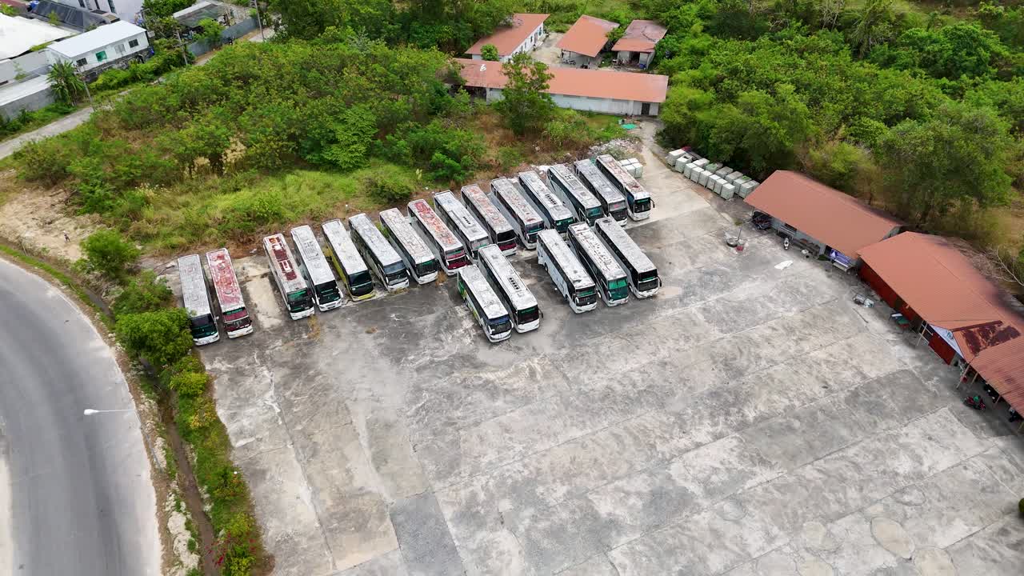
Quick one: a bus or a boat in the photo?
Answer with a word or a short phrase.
bus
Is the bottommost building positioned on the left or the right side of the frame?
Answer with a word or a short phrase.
right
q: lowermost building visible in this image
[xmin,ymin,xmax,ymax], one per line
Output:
[916,321,1024,429]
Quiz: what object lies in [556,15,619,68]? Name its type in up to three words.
shed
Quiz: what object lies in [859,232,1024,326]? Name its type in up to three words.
building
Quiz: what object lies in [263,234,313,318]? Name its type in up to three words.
bus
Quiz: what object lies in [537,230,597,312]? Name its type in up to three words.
bus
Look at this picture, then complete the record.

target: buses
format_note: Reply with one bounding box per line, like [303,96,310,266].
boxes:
[458,266,512,342]
[435,192,491,263]
[573,160,628,223]
[461,185,518,256]
[491,179,546,247]
[548,166,605,229]
[568,224,629,305]
[537,230,597,312]
[519,173,574,242]
[596,155,654,220]
[594,219,662,296]
[179,255,217,343]
[291,227,340,309]
[263,234,313,318]
[408,200,467,273]
[349,215,407,290]
[322,221,373,298]
[379,209,438,285]
[207,249,250,337]
[479,245,543,332]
